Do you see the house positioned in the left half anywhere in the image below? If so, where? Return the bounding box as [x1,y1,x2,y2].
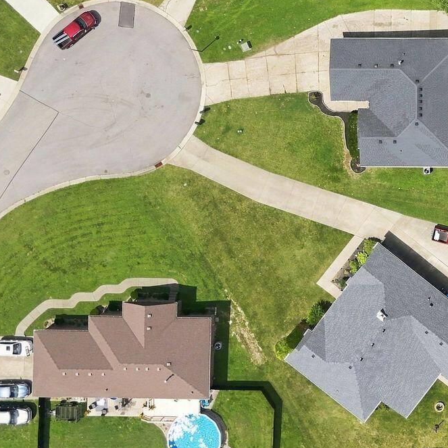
[32,299,215,399]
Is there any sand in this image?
No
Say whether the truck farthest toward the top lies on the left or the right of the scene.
left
